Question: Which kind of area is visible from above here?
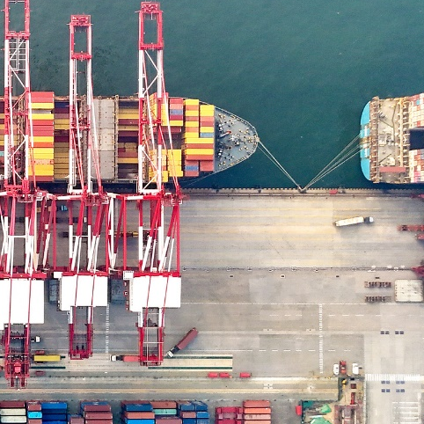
port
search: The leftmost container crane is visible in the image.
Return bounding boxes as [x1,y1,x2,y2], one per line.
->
[0,0,48,390]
